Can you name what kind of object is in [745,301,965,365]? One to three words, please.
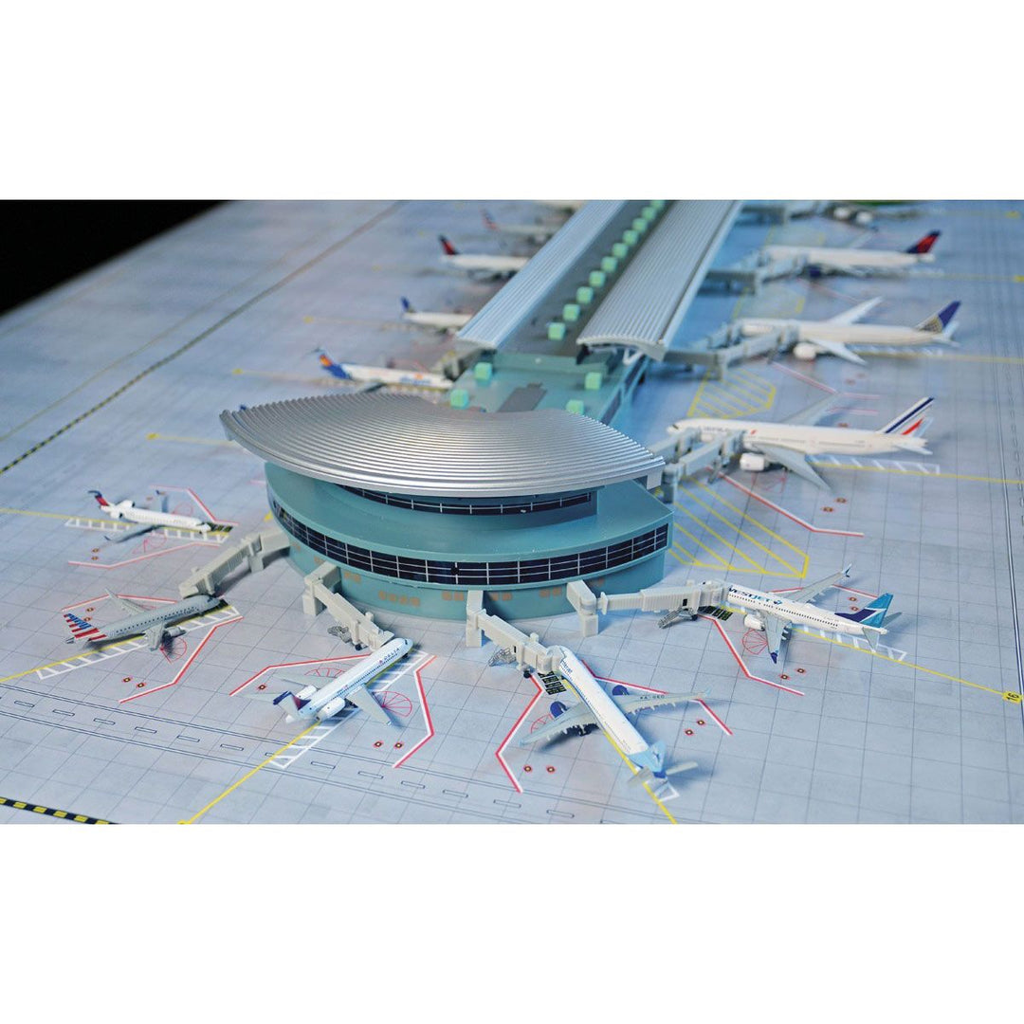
airplane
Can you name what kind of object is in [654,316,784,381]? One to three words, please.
jet bridge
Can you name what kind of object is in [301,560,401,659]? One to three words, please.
jet bridge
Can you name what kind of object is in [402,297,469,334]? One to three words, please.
airplane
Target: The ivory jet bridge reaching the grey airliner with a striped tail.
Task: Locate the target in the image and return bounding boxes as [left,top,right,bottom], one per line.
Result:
[180,526,292,603]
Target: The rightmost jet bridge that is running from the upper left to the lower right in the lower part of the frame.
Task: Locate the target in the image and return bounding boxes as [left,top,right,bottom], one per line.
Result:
[465,589,565,682]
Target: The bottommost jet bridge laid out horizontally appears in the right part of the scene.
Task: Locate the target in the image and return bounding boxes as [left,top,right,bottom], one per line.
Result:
[565,579,735,639]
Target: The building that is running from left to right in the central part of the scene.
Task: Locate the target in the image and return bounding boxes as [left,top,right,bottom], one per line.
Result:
[219,391,676,618]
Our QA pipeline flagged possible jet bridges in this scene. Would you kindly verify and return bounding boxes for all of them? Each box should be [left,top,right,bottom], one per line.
[433,346,484,383]
[301,560,401,659]
[654,316,784,381]
[465,589,565,682]
[708,243,809,294]
[632,421,747,507]
[180,526,292,603]
[565,579,735,639]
